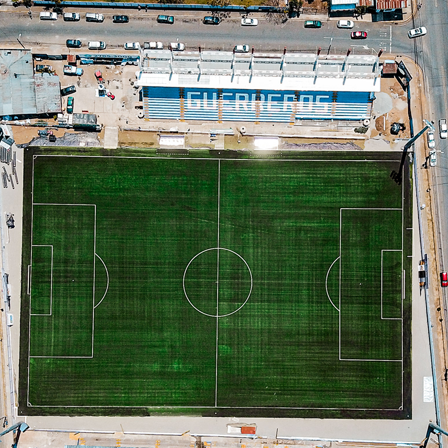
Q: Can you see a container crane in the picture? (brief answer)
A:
No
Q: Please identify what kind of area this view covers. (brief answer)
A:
sports ground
